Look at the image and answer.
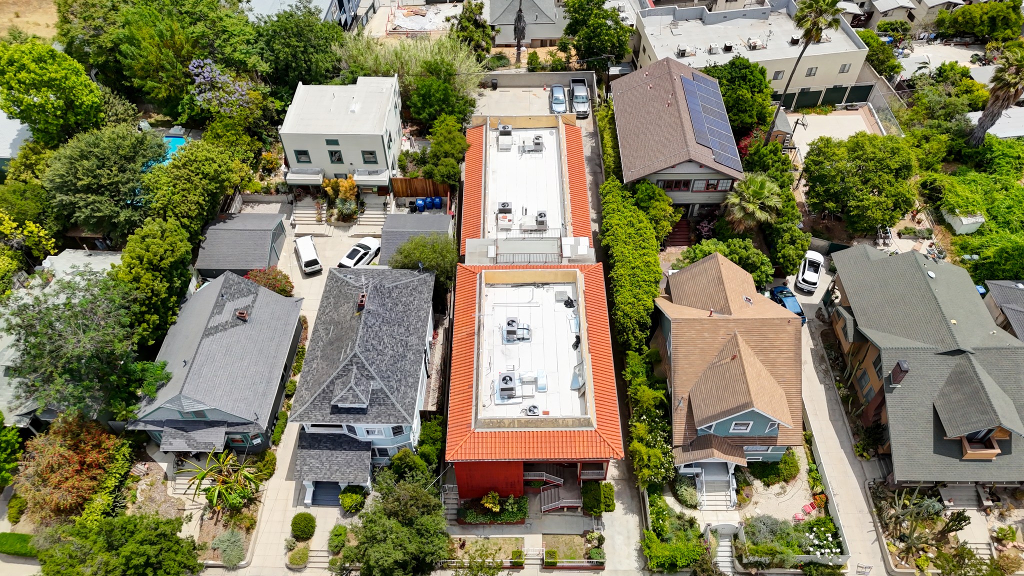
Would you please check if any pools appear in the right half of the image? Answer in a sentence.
No, there is no pool in the right half of the image.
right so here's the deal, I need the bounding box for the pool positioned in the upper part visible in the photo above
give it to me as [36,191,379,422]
[80,139,190,214]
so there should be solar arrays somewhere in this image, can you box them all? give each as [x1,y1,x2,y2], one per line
[685,74,740,167]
